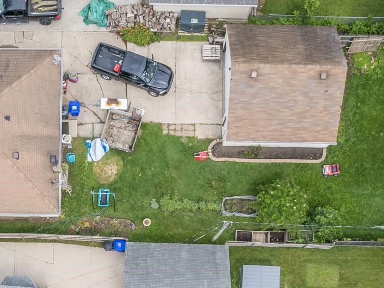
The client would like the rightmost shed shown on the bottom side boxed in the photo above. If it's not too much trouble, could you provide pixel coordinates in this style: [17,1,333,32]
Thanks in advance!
[238,265,280,288]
